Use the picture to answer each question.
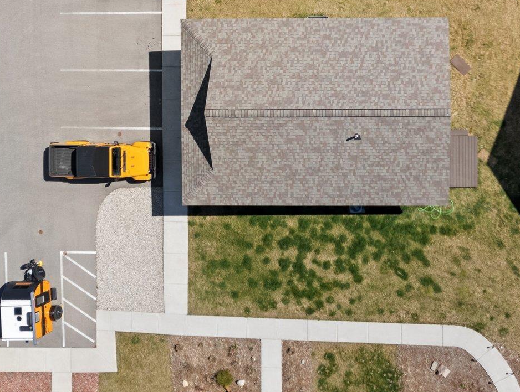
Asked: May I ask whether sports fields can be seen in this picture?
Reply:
No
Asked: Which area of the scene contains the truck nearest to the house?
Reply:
left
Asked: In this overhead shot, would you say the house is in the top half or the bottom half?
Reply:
top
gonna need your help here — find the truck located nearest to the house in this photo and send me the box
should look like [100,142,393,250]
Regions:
[48,140,157,182]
